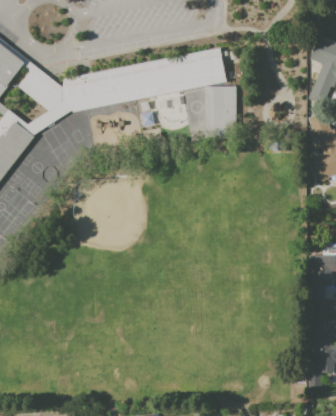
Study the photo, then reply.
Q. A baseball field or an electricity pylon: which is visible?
baseball field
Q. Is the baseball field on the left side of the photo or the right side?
left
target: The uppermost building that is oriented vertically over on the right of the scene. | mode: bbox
[308,38,336,95]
